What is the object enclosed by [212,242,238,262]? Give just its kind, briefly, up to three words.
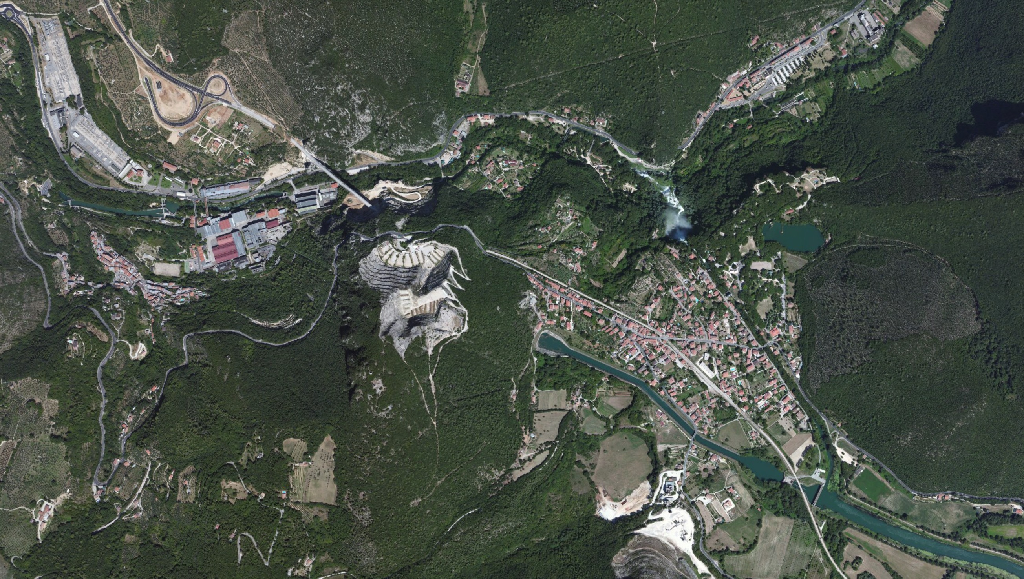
building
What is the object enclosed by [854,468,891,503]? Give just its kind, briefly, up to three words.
soccer field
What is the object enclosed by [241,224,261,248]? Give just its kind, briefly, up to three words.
building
